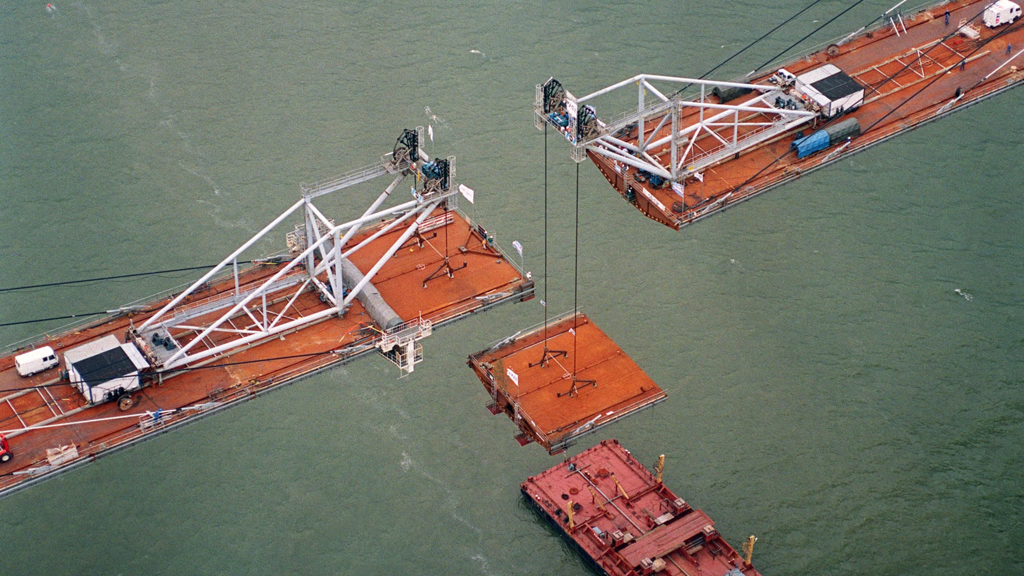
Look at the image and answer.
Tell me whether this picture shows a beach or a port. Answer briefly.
port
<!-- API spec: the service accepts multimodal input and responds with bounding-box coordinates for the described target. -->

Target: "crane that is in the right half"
[530,72,826,185]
